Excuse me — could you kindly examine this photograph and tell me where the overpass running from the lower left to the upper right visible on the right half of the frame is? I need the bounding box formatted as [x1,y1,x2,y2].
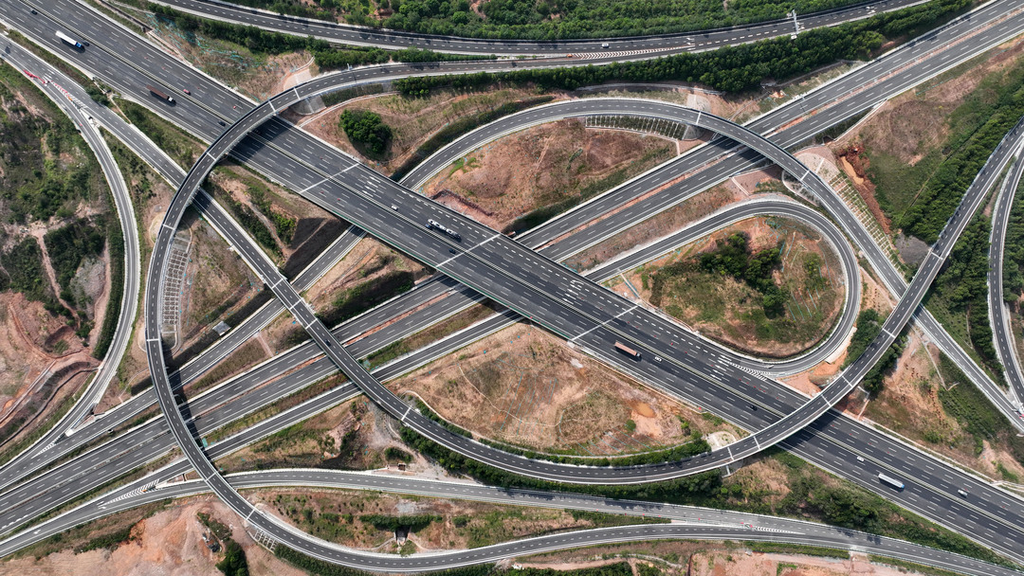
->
[727,250,945,461]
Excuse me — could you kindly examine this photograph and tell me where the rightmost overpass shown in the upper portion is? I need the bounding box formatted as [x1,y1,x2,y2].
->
[695,112,810,181]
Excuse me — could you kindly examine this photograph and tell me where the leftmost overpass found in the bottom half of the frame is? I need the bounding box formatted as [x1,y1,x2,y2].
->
[147,338,254,519]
